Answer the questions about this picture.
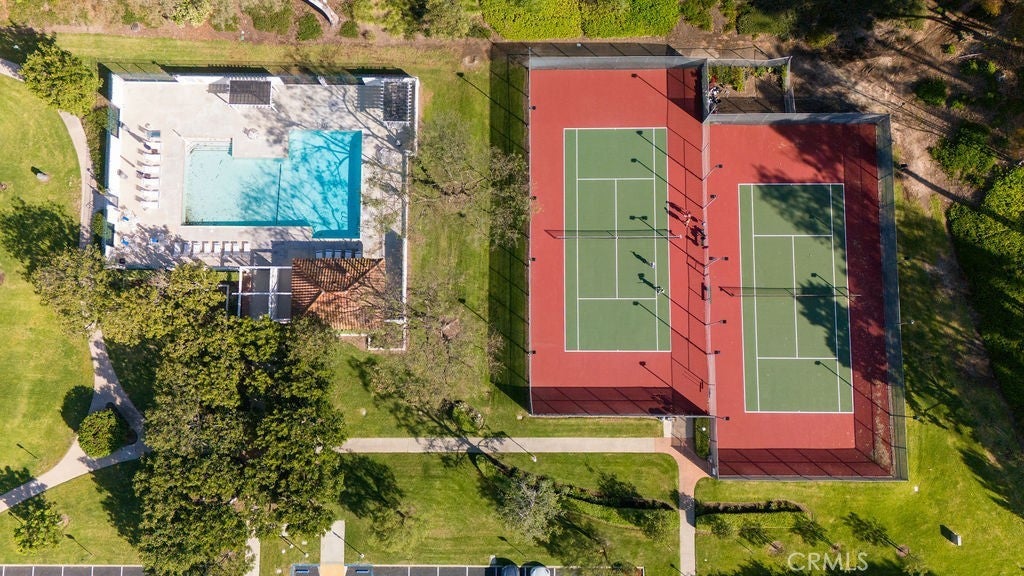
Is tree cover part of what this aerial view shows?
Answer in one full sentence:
Yes, there's tree cover in this view.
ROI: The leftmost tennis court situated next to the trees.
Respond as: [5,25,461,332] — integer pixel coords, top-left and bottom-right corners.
[529,68,708,415]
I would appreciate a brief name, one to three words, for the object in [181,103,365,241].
swimming pool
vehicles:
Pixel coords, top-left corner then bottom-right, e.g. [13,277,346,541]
[501,566,519,576]
[531,567,549,576]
